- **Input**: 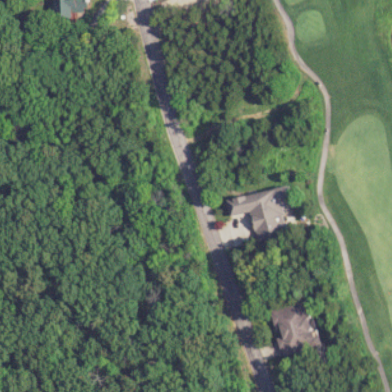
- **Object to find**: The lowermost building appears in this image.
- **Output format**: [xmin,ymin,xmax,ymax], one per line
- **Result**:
[272,306,324,358]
